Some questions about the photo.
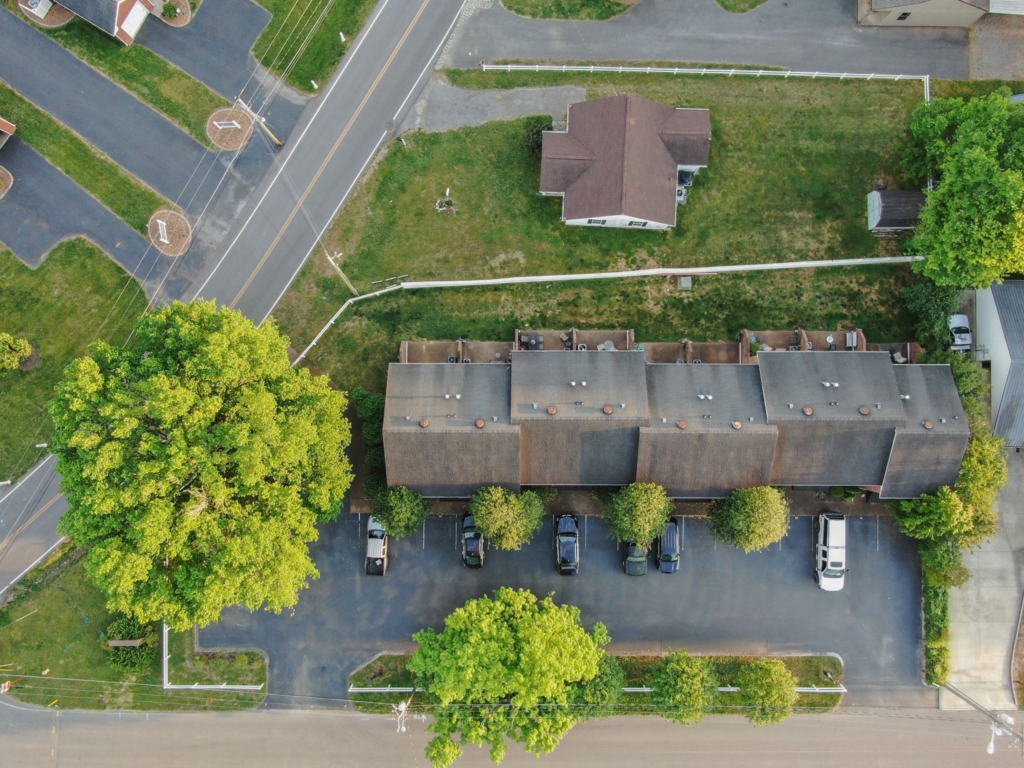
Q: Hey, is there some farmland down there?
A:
No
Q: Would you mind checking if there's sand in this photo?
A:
No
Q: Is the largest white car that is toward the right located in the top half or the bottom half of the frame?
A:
bottom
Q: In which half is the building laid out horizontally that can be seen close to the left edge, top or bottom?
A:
top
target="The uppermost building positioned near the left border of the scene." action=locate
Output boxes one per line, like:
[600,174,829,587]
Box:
[51,0,155,45]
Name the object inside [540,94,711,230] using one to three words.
house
